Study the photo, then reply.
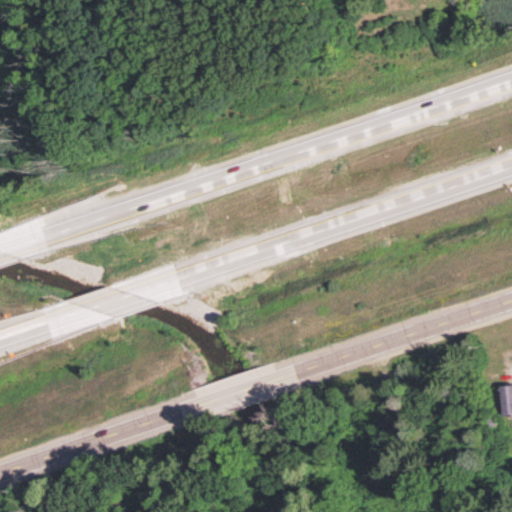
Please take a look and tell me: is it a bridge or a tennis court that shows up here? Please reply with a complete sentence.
This aerial view contains a bridge.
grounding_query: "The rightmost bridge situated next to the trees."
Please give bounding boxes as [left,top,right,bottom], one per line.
[188,358,300,421]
